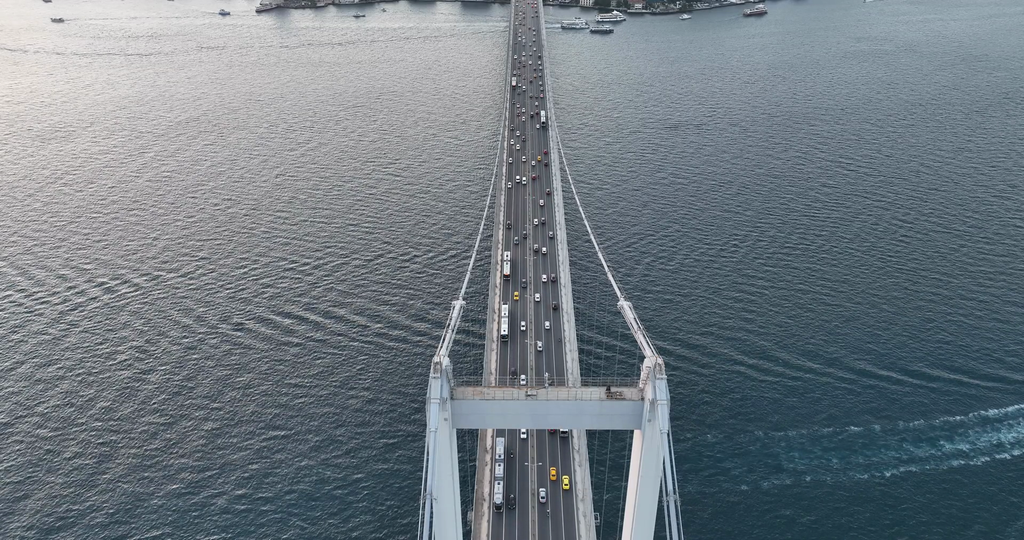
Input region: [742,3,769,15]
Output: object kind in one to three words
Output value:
ship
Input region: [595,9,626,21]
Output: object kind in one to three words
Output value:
ship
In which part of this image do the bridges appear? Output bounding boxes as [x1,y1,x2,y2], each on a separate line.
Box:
[413,0,689,540]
